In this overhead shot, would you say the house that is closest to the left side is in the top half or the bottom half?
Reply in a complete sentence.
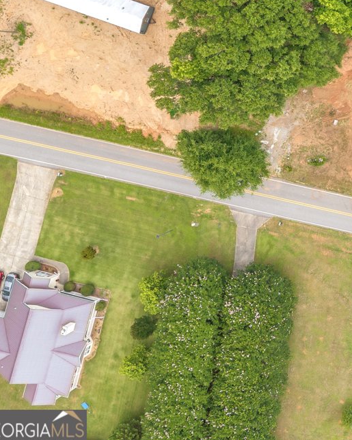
Seen from above, the house that is closest to the left side lies in the bottom half of the view.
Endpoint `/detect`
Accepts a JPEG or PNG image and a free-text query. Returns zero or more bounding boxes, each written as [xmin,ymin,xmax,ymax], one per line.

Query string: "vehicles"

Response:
[1,272,20,300]
[0,271,5,294]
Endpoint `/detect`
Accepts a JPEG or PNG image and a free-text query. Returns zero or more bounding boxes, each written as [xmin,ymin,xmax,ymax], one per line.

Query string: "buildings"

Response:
[0,269,100,406]
[46,0,161,34]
